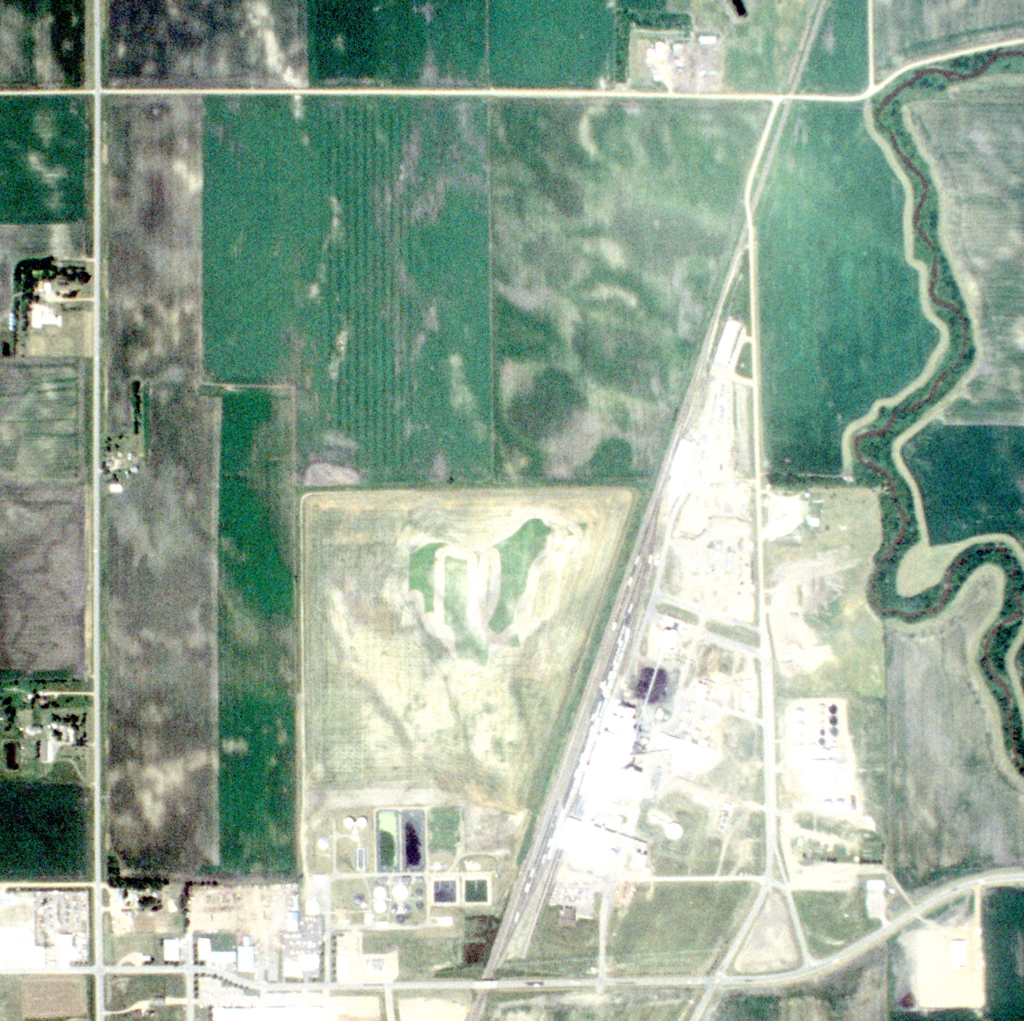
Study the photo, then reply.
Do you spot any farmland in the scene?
Yes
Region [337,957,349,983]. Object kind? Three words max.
building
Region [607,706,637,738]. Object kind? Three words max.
house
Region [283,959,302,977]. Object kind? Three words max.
building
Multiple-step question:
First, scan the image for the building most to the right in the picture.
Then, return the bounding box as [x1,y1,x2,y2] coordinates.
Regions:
[951,941,967,967]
